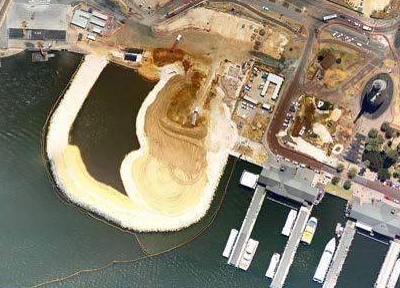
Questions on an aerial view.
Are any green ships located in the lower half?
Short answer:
No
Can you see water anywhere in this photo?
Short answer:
Yes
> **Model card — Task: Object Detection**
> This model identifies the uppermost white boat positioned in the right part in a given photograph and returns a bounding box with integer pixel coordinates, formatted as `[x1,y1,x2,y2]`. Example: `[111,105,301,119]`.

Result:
[238,170,259,188]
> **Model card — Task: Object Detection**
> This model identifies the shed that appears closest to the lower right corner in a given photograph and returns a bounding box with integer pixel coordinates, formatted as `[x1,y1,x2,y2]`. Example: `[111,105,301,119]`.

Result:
[348,196,400,240]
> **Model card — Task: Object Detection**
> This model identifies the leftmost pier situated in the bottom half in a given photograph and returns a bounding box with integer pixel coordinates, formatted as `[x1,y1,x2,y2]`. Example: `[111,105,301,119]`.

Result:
[229,186,265,266]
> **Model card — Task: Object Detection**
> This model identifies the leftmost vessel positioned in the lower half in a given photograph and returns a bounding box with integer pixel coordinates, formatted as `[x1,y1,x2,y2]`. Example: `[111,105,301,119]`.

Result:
[223,230,237,256]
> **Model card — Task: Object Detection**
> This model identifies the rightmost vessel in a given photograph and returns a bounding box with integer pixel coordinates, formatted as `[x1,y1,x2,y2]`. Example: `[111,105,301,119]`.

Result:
[387,260,400,288]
